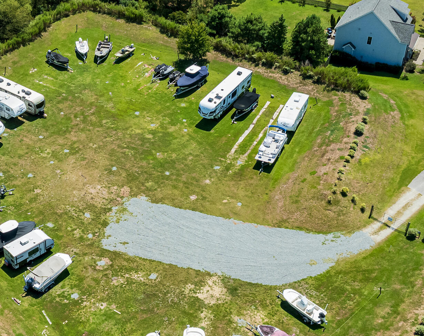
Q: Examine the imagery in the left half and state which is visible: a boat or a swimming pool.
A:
boat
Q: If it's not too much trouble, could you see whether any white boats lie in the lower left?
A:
Yes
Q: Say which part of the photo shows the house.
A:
top right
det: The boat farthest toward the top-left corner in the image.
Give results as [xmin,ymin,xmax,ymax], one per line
[45,49,69,63]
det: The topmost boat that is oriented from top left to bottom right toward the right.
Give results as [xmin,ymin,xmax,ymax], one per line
[283,289,327,329]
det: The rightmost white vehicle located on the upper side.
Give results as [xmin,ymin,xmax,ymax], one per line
[276,93,309,141]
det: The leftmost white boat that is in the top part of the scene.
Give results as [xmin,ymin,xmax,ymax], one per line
[76,37,89,54]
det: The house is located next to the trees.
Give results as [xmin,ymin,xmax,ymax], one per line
[331,0,421,66]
